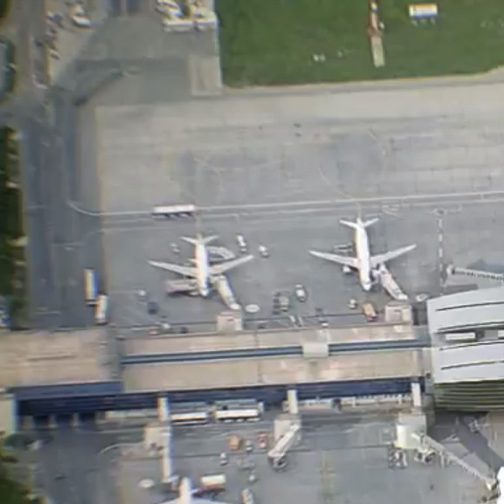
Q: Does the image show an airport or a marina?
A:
airport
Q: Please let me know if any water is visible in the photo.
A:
No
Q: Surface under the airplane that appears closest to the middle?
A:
apron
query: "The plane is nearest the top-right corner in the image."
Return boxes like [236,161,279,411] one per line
[309,202,415,291]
